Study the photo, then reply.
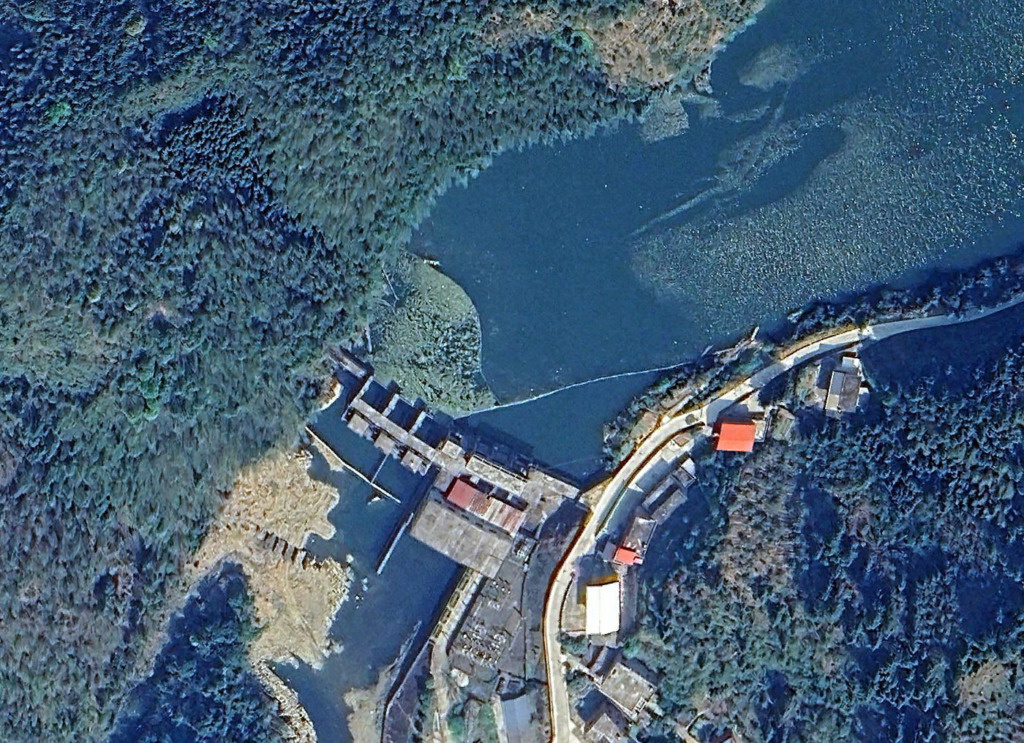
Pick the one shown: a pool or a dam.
dam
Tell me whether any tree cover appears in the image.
Yes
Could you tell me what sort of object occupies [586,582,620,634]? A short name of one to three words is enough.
building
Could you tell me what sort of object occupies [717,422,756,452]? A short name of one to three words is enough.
house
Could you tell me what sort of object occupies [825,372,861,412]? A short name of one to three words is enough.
house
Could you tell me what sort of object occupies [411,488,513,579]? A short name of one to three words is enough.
building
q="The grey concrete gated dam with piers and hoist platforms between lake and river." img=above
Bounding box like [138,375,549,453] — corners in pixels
[329,349,580,540]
